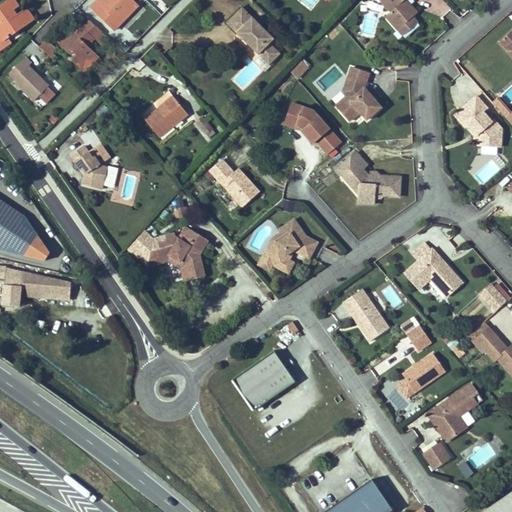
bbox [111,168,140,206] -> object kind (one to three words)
swimming pool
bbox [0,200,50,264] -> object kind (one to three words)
building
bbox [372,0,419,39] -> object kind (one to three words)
house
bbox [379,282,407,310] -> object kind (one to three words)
swimming pool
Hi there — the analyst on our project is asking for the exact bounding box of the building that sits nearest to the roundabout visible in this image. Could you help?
[234,352,296,410]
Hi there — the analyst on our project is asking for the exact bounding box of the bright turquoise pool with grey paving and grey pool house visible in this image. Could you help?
[459,433,504,472]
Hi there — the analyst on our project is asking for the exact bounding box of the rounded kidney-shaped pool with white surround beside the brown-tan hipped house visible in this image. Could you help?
[244,219,278,256]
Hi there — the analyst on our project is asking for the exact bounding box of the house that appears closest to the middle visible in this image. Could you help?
[258,218,319,275]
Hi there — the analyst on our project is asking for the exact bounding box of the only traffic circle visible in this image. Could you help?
[136,356,202,422]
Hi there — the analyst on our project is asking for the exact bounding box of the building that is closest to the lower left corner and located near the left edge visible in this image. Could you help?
[0,269,70,309]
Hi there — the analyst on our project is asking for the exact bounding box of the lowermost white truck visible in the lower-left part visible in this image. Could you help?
[61,474,97,504]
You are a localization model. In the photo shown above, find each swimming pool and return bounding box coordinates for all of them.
[379,282,407,310]
[459,433,504,472]
[301,0,320,10]
[244,219,278,256]
[111,168,140,206]
[468,154,507,186]
[232,56,272,90]
[358,2,382,37]
[497,83,512,110]
[312,62,346,101]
